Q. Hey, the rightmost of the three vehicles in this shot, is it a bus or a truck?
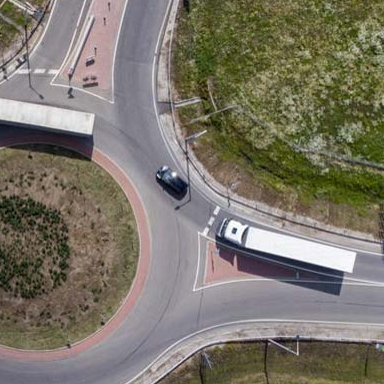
truck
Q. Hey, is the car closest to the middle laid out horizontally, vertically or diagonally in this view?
diagonally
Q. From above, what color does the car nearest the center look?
black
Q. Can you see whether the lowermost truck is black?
No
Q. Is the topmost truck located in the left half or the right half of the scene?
left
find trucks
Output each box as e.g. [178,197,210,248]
[0,99,97,138]
[214,217,358,272]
